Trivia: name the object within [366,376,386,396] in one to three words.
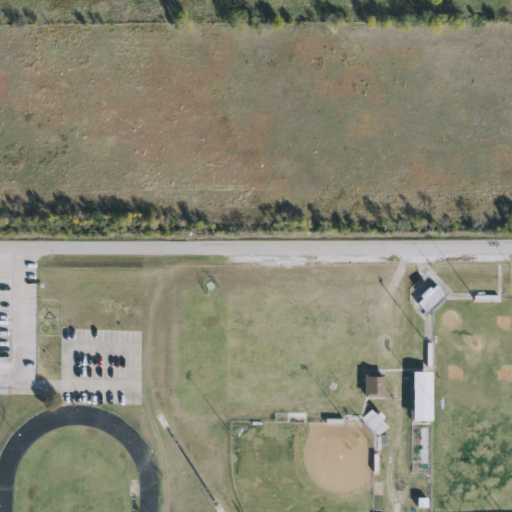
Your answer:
house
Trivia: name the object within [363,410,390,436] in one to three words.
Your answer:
building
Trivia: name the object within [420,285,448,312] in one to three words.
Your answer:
building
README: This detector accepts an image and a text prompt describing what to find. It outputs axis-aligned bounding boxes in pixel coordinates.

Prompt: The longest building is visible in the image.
[415,372,436,422]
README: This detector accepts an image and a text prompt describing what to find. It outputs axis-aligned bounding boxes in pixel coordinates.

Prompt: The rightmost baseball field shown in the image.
[434,303,512,510]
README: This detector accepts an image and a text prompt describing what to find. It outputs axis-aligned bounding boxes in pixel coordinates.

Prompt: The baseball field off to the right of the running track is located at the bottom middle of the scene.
[232,422,374,512]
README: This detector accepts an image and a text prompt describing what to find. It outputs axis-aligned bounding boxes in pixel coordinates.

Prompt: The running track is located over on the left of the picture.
[0,406,160,512]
